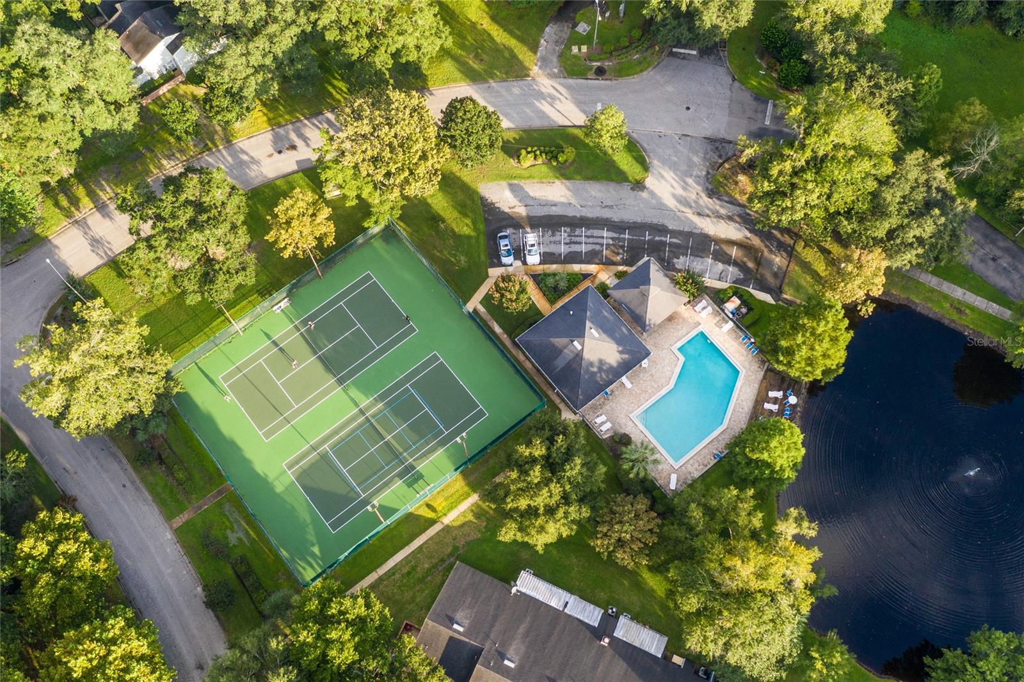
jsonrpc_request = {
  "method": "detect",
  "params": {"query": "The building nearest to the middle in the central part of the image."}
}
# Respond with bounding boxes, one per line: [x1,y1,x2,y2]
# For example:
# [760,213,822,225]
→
[516,285,653,412]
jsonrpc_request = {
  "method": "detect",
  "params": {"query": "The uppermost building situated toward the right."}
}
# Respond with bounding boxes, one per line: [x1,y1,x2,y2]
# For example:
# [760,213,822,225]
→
[606,258,690,334]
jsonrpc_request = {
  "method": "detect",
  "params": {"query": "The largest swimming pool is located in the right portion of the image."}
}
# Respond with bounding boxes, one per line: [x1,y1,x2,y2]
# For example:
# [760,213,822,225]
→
[629,327,745,469]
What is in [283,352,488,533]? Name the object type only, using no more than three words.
tennis court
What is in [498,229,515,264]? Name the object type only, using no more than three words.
car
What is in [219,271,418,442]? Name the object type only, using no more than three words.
tennis court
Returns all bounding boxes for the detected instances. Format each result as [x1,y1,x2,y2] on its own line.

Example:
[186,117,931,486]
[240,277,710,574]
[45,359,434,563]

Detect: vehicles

[524,230,541,263]
[498,229,515,264]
